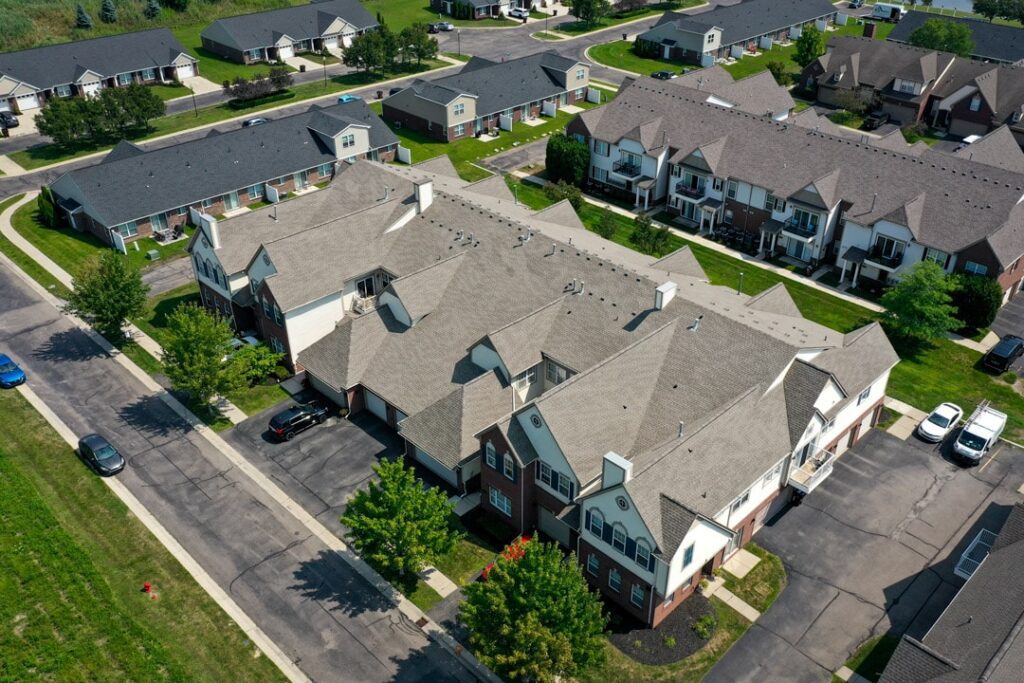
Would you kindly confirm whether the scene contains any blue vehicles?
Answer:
Yes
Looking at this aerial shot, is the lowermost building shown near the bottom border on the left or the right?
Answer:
right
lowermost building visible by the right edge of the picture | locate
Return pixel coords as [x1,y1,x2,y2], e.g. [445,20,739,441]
[869,473,1024,683]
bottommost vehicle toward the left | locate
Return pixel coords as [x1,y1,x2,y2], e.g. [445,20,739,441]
[73,431,121,472]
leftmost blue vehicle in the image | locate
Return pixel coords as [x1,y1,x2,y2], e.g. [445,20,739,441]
[0,350,26,384]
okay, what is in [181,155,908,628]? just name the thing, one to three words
building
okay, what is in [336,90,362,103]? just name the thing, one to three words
vehicle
